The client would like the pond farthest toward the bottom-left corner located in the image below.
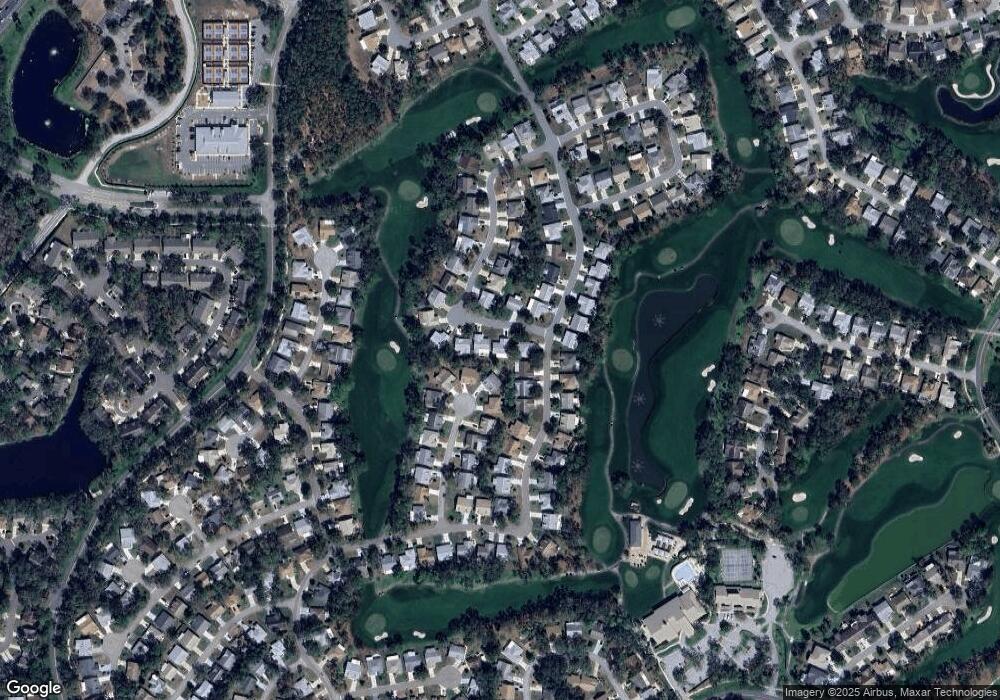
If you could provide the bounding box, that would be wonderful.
[0,359,107,499]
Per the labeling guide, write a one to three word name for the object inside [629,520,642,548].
barn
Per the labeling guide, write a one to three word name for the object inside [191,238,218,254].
house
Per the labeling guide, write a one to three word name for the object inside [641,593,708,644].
building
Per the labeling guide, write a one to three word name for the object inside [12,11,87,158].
pond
